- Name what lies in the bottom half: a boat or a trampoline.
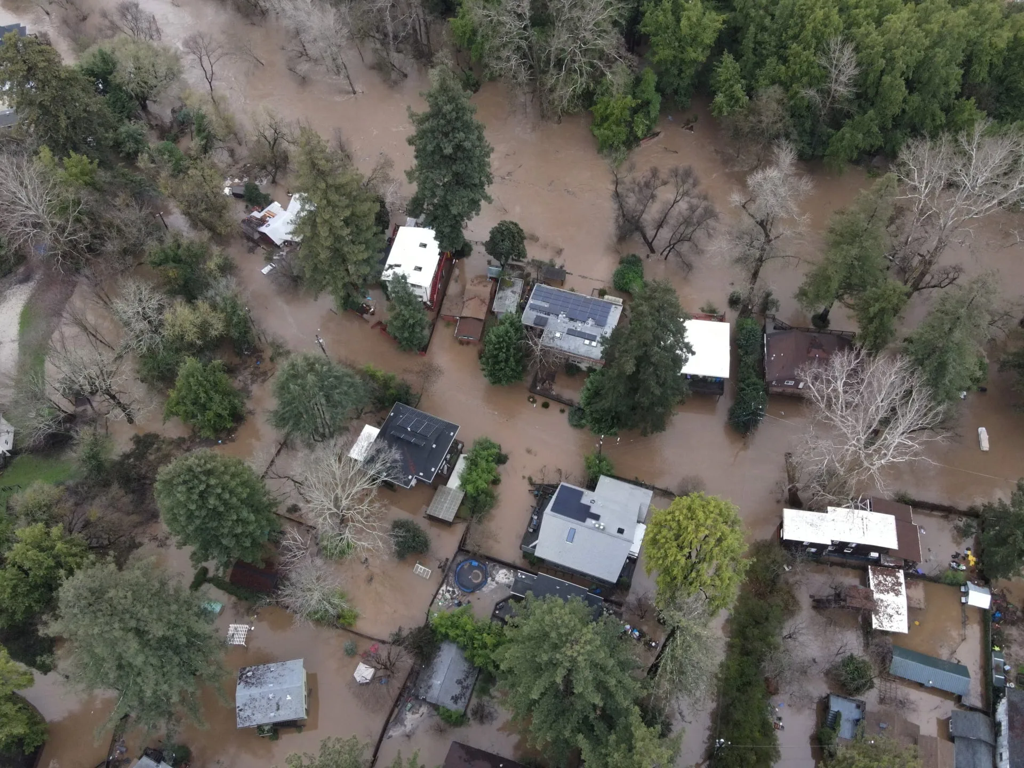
trampoline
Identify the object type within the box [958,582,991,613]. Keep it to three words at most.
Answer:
shed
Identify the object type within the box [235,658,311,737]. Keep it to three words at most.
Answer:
house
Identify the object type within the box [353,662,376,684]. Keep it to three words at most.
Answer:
tent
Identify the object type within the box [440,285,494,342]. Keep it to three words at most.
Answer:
building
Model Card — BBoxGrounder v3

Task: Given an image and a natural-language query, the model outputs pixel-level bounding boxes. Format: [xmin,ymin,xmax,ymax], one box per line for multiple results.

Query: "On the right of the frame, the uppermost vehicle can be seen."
[975,427,992,454]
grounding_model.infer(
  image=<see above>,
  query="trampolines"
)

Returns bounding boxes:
[455,560,488,592]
